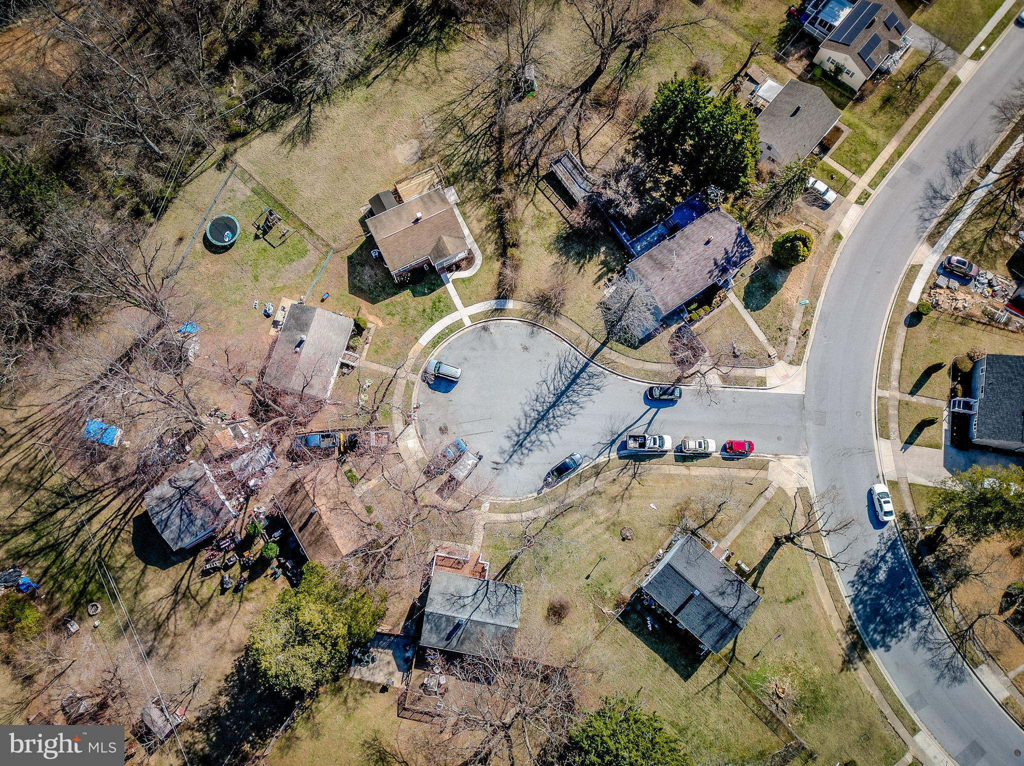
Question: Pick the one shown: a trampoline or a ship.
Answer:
trampoline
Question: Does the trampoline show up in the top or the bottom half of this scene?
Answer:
top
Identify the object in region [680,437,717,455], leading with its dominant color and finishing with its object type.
white car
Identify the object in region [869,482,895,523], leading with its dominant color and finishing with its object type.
white car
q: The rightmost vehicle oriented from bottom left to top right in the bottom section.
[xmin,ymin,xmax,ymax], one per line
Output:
[544,452,583,487]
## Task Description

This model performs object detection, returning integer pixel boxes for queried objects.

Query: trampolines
[206,213,240,246]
